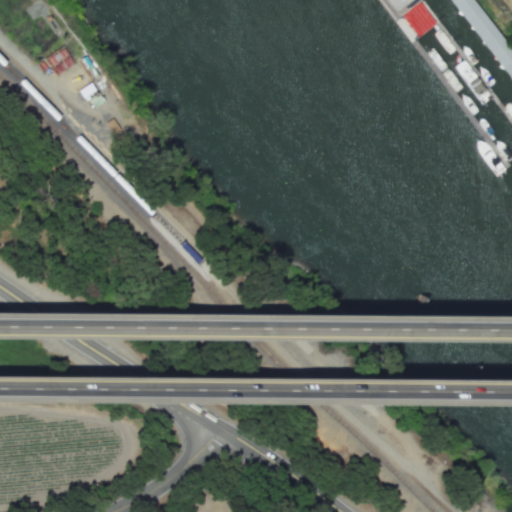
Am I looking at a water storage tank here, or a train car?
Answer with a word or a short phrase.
train car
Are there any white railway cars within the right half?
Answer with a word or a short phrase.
No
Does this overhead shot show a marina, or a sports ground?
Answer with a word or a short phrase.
marina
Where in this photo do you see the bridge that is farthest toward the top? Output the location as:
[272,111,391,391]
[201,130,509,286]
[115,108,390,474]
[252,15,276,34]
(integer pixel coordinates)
[0,314,512,342]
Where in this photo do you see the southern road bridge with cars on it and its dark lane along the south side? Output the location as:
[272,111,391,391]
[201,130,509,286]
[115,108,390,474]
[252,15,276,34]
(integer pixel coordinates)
[0,377,512,406]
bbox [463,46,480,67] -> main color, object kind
white boat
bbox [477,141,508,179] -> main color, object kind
white boat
